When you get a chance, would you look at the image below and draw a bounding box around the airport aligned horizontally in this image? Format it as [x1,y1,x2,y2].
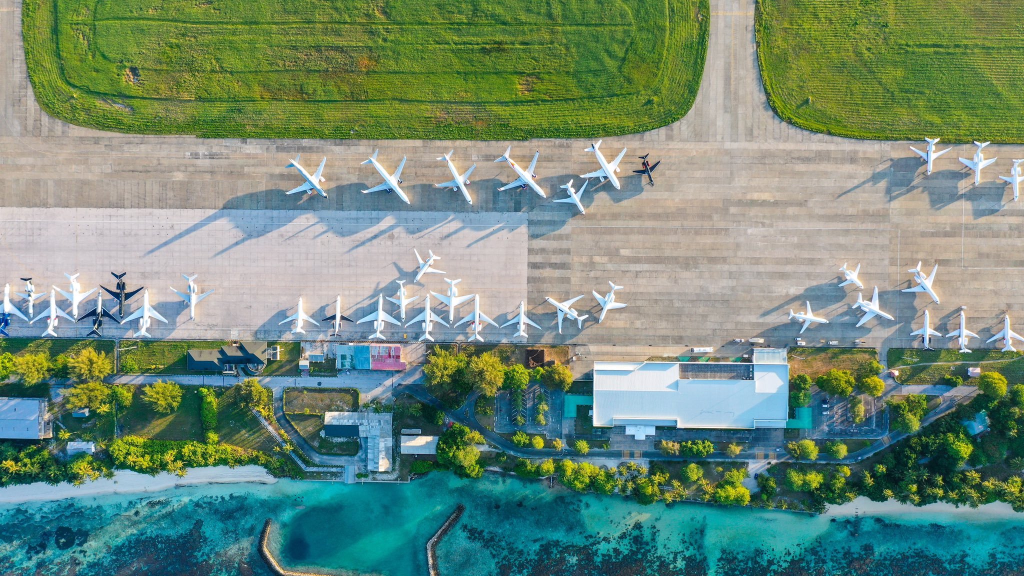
[0,0,1024,373]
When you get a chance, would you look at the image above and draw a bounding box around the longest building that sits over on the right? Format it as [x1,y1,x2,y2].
[593,361,789,440]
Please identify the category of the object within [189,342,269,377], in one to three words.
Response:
building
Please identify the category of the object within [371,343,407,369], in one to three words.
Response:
shed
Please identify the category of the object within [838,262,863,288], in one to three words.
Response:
airplane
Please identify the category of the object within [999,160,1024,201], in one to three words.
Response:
airplane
